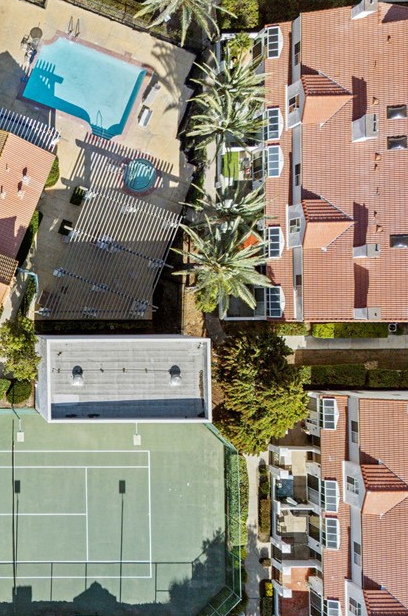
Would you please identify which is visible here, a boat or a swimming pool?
swimming pool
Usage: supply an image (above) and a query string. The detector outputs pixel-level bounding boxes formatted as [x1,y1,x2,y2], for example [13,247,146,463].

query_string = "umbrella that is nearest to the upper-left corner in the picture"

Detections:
[26,26,43,45]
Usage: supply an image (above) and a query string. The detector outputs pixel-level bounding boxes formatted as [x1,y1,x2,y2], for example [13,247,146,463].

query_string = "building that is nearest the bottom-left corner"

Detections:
[35,334,211,422]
